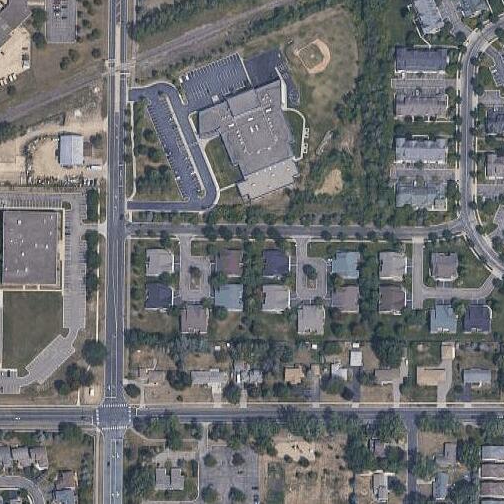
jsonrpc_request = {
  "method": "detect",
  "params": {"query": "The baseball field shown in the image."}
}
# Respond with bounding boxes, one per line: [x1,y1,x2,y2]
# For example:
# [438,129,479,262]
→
[288,37,330,73]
